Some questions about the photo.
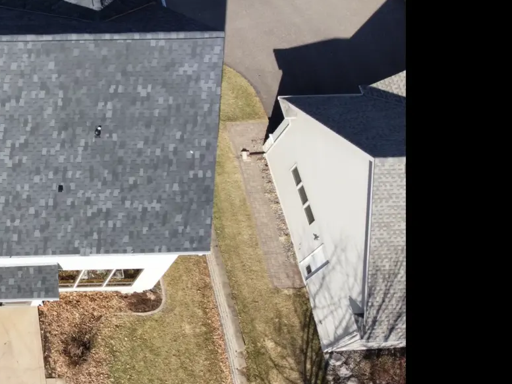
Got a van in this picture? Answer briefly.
No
